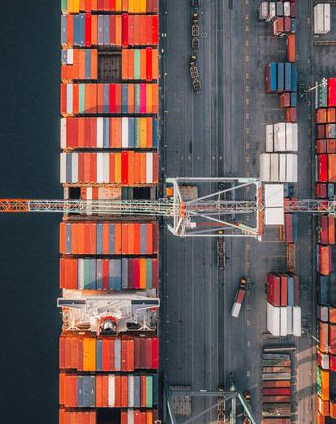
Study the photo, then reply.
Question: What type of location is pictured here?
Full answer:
It's a port.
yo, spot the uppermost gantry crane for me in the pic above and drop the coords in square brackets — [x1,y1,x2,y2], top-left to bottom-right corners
[0,170,336,239]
